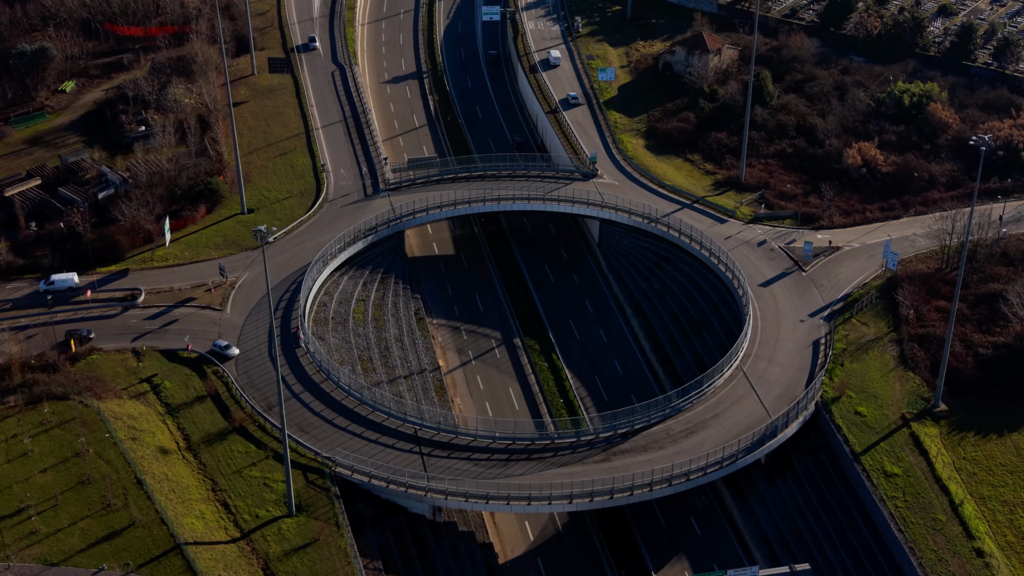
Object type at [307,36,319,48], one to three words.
vehicle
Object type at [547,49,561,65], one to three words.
vehicle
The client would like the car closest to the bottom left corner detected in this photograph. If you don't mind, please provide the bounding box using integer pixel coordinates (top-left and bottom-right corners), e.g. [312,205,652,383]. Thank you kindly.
[59,330,98,348]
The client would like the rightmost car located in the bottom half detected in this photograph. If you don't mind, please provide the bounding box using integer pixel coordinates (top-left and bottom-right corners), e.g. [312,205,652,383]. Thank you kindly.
[210,340,241,362]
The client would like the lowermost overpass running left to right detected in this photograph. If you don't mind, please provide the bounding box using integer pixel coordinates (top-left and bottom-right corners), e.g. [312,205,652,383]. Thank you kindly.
[330,334,832,522]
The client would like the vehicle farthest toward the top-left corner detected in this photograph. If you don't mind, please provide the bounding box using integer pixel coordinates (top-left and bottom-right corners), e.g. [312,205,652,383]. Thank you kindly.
[39,273,80,296]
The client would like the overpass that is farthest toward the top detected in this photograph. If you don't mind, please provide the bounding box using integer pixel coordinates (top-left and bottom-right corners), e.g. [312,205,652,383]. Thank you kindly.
[388,170,607,224]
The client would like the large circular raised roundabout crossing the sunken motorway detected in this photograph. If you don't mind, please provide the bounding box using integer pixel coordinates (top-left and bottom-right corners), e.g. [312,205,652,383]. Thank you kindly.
[219,173,831,497]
